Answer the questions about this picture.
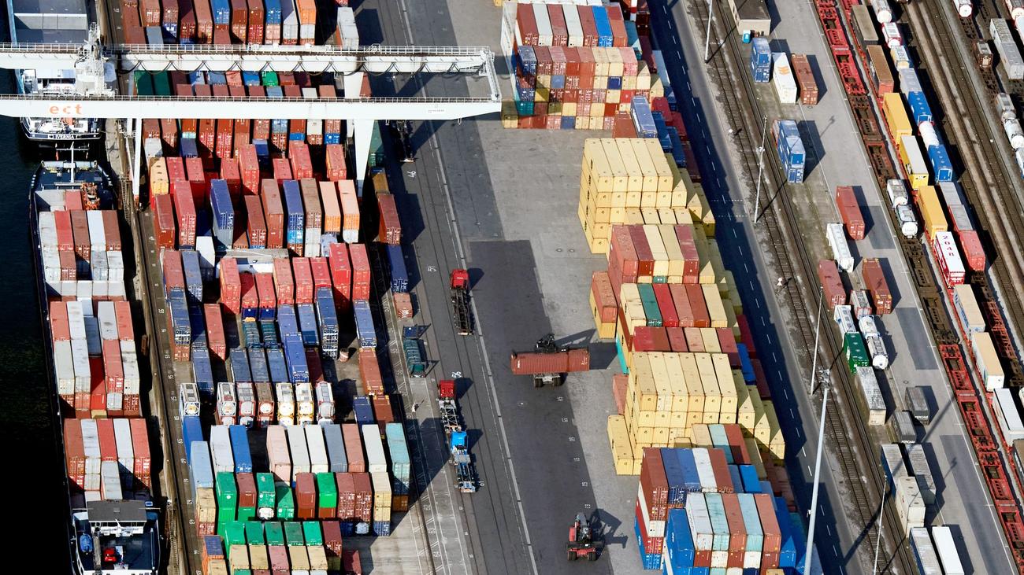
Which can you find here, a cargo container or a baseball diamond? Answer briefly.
cargo container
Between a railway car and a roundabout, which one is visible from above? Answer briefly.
railway car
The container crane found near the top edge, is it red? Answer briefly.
No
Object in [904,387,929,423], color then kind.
gray shipping container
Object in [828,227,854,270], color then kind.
white shipping container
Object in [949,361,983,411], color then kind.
red rail car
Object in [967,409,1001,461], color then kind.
red rail car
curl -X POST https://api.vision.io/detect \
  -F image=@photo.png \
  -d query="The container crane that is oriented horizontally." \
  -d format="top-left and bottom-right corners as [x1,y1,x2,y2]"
[0,0,502,205]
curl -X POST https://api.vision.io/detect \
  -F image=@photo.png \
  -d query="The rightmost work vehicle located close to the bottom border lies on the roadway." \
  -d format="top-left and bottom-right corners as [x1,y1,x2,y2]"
[562,510,606,558]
